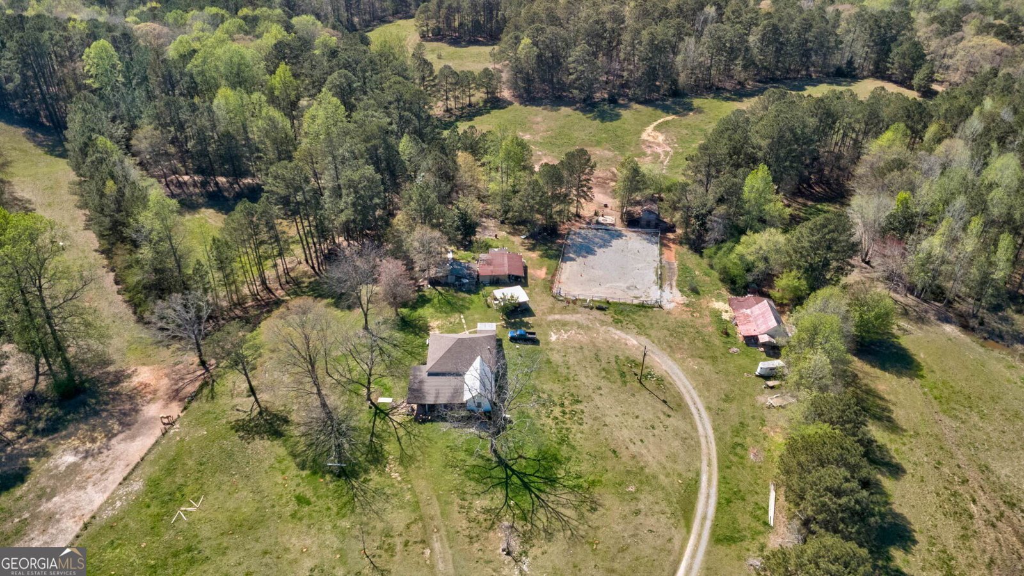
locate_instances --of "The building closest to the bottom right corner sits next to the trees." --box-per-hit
[727,297,787,349]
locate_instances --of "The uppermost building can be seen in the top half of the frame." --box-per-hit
[624,196,676,229]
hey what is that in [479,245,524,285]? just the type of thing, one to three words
shed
